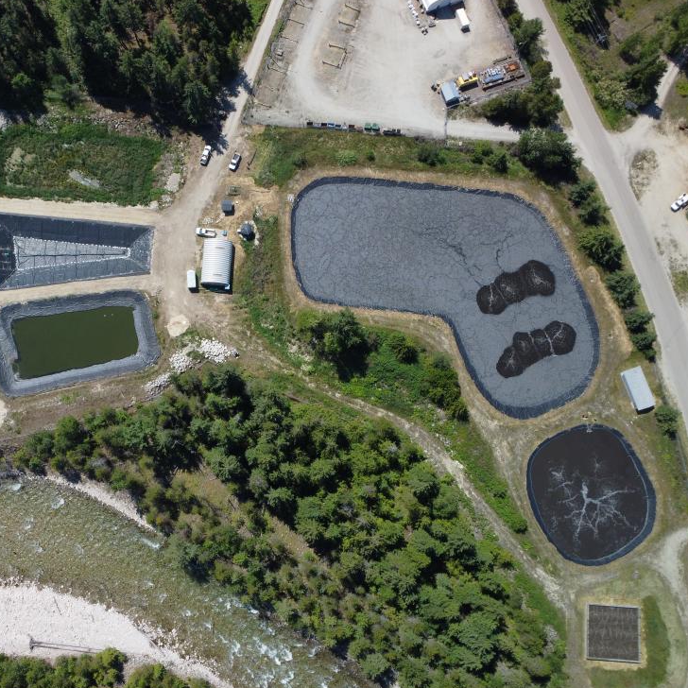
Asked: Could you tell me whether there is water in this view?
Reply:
Yes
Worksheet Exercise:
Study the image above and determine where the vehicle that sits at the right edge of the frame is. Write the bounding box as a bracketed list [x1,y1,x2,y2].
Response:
[670,191,688,209]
